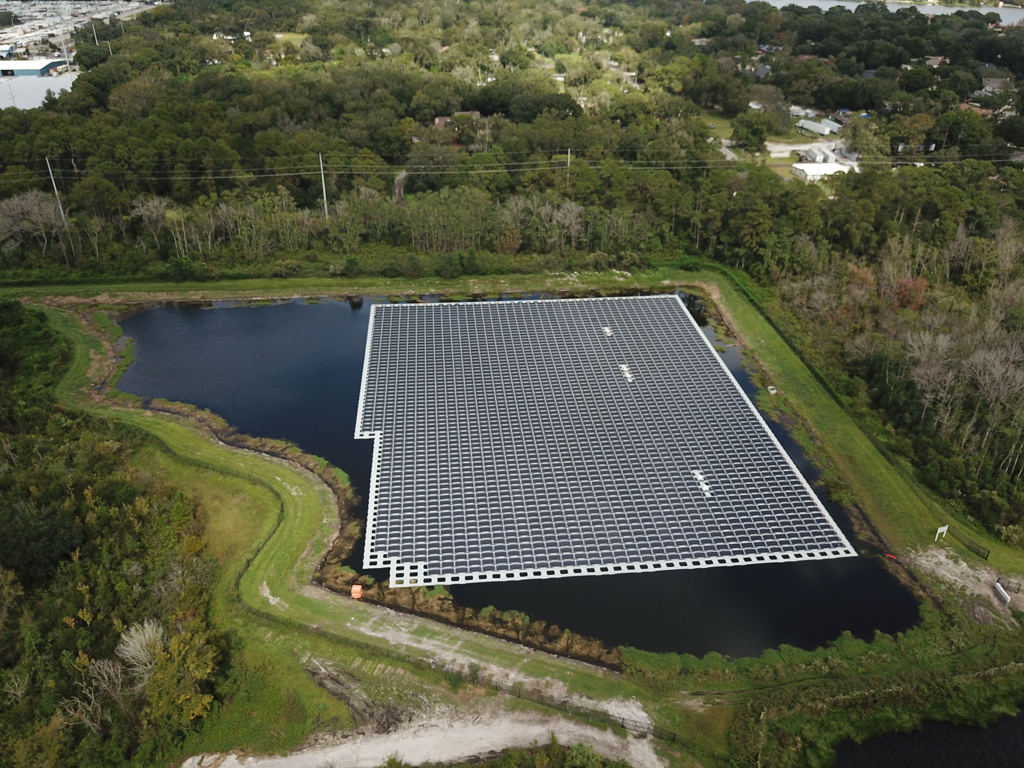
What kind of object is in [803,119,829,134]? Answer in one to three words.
vehicle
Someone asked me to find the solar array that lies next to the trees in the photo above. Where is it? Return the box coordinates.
[353,294,858,588]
